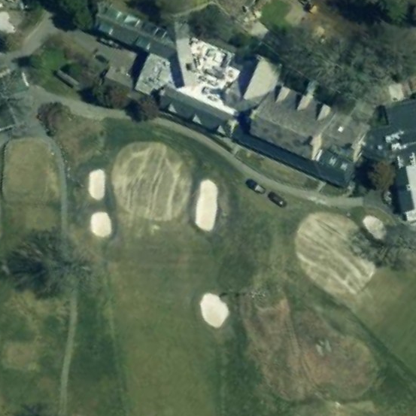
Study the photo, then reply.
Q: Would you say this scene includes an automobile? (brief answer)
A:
Yes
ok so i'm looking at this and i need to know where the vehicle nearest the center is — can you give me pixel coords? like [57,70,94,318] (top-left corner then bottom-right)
[244,177,266,194]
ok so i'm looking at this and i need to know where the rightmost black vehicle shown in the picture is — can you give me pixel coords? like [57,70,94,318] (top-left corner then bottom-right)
[267,190,287,207]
